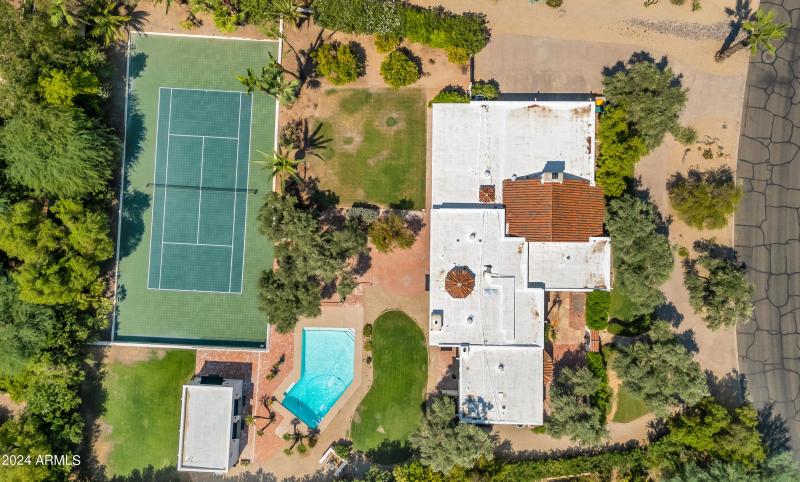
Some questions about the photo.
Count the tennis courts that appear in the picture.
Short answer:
1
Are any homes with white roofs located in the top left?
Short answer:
No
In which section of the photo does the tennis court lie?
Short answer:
left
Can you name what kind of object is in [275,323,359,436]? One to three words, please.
swimming pool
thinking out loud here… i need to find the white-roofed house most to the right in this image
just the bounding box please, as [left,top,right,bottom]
[426,98,612,425]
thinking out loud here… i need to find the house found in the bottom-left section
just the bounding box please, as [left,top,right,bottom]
[177,377,242,473]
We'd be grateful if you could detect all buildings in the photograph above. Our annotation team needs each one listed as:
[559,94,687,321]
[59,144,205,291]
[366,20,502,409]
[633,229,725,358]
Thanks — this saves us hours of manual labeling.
[177,377,242,473]
[426,98,612,425]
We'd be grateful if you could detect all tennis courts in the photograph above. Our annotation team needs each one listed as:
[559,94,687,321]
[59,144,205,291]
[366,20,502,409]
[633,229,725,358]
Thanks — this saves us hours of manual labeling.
[118,37,280,346]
